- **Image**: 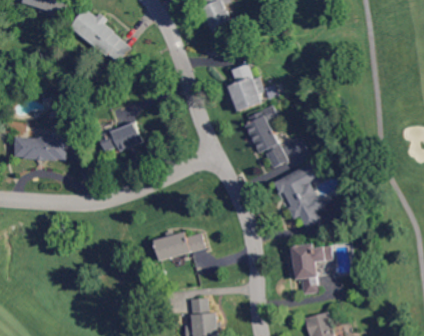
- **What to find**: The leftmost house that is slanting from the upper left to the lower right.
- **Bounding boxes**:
[74,11,130,58]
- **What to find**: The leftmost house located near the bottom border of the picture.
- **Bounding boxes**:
[192,298,220,336]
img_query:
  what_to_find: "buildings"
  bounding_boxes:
[14,137,68,161]
[101,122,144,152]
[229,62,266,111]
[275,170,326,220]
[307,310,337,336]
[292,245,334,295]
[206,0,230,24]
[22,0,64,10]
[74,11,130,58]
[154,232,209,260]
[248,104,290,168]
[192,298,220,336]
